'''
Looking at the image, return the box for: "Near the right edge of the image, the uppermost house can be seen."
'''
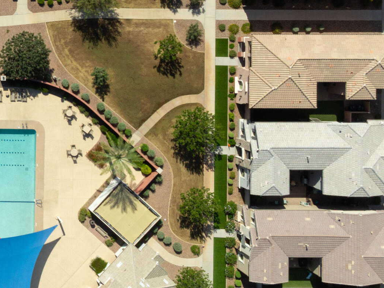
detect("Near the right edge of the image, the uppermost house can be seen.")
[233,34,384,109]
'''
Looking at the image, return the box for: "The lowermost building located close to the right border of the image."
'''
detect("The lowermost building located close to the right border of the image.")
[232,206,384,288]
